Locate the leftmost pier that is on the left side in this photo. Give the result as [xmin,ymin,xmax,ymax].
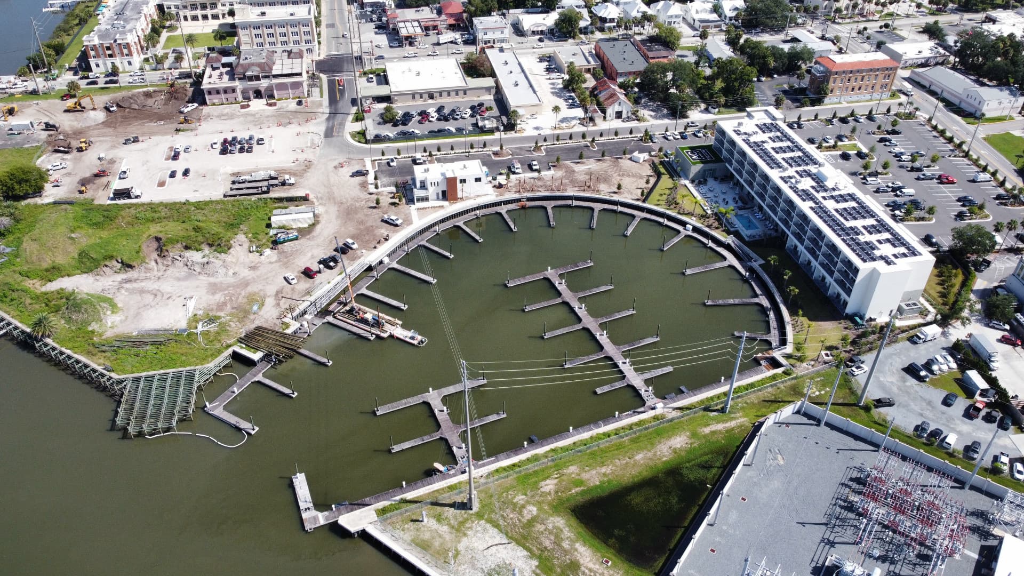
[203,360,298,436]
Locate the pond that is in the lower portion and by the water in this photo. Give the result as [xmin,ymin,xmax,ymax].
[579,459,736,571]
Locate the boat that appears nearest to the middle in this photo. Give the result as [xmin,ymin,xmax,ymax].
[392,326,427,343]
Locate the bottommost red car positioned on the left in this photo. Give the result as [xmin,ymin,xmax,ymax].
[302,264,317,277]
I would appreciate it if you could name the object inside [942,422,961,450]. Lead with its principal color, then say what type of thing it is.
white vehicle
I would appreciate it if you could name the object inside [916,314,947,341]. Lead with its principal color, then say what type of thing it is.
white truck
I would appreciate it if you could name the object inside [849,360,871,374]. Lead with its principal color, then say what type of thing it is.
white car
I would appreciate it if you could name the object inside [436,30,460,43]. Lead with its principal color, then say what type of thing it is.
white vehicle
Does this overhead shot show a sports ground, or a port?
port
